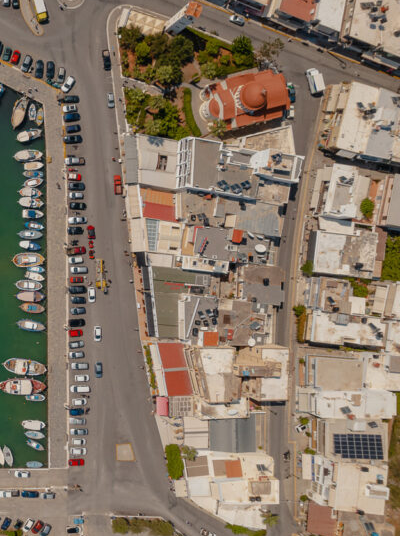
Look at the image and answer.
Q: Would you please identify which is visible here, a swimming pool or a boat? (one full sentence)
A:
Looking from above, you can make out a boat.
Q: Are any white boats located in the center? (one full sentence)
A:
No, the scene shows no white boat in the center.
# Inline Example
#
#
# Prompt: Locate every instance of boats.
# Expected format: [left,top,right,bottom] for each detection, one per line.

[25,436,48,455]
[22,170,46,178]
[12,93,28,129]
[25,460,44,467]
[1,358,49,376]
[15,280,46,291]
[15,290,47,302]
[23,177,45,187]
[22,209,46,218]
[22,420,46,430]
[17,129,46,142]
[3,445,13,467]
[17,230,46,240]
[18,196,47,208]
[28,100,36,121]
[11,253,46,267]
[23,270,45,281]
[14,150,46,162]
[19,240,47,251]
[23,162,46,170]
[16,318,48,333]
[24,430,46,439]
[36,107,44,126]
[25,221,47,232]
[0,378,49,395]
[27,265,47,273]
[19,187,46,197]
[19,302,48,315]
[26,393,48,402]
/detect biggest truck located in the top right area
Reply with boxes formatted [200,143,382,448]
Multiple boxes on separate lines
[301,67,327,98]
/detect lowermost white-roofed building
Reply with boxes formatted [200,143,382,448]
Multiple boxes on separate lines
[189,495,267,529]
